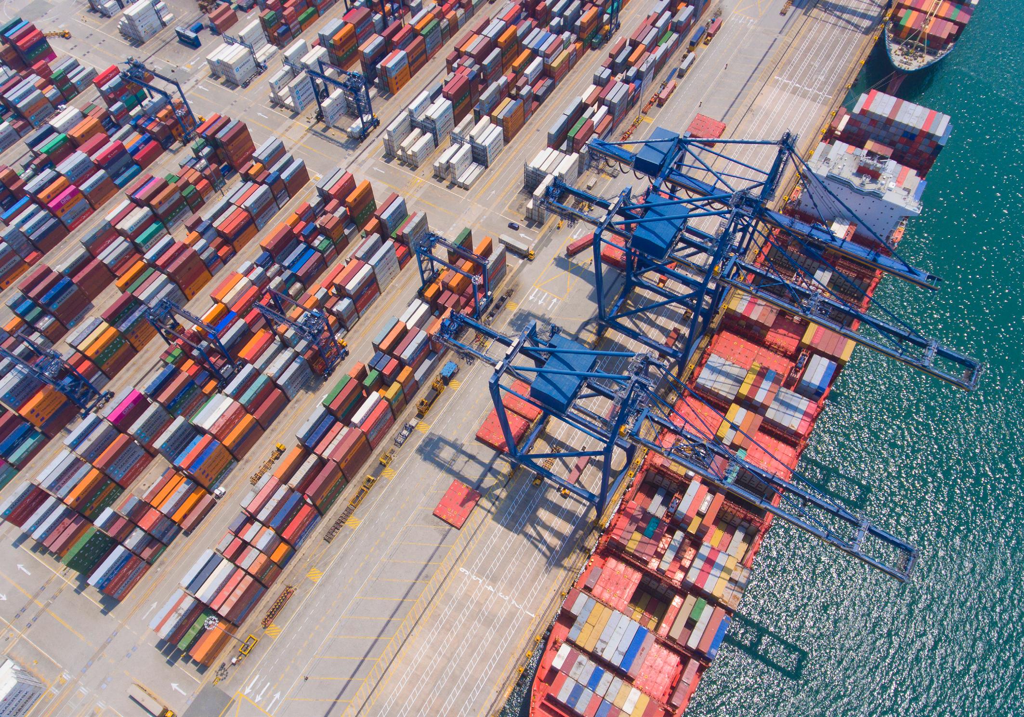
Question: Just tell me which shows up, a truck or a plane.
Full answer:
There is a truck in the scene.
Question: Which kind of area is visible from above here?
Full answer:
The area seen from above is a port.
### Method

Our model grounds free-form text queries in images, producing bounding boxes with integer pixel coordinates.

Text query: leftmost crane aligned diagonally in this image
[0,326,111,420]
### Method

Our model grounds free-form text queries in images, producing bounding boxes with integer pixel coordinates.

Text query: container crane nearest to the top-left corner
[121,61,205,141]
